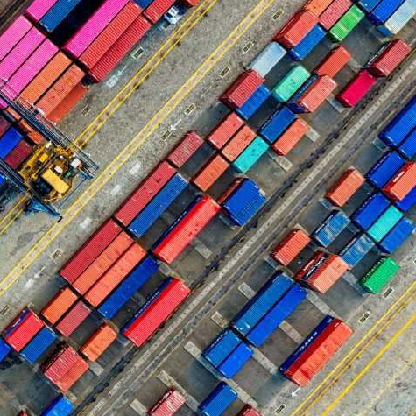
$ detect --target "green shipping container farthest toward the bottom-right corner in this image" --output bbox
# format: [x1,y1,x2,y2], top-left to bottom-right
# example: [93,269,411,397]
[357,256,401,294]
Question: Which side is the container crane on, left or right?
left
